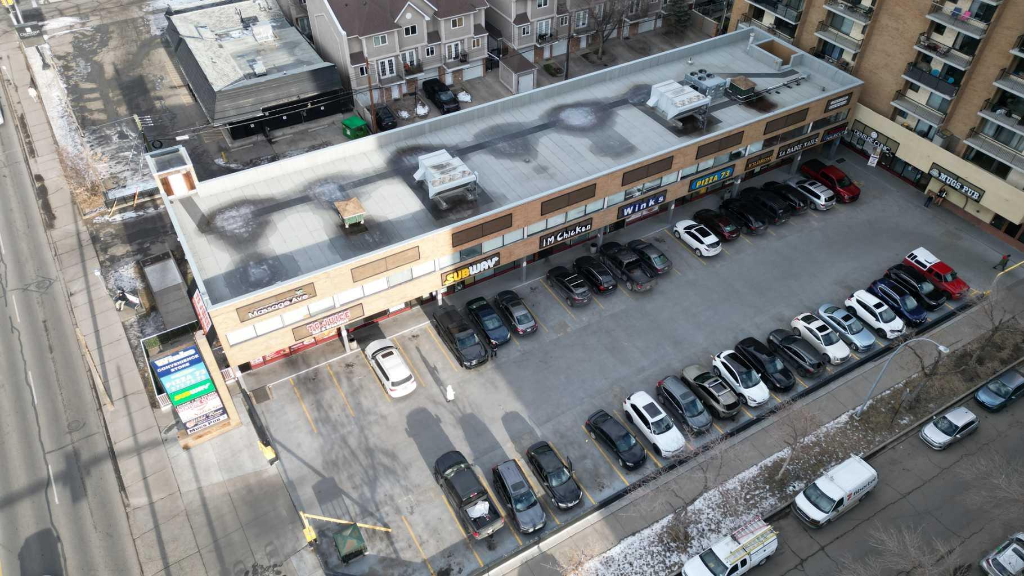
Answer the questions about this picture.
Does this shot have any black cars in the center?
Yes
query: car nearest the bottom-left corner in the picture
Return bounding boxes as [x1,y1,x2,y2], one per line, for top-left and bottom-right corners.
[371,341,417,394]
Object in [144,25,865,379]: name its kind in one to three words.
building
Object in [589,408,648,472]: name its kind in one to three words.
car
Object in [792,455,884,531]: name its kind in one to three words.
van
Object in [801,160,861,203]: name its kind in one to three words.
truck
